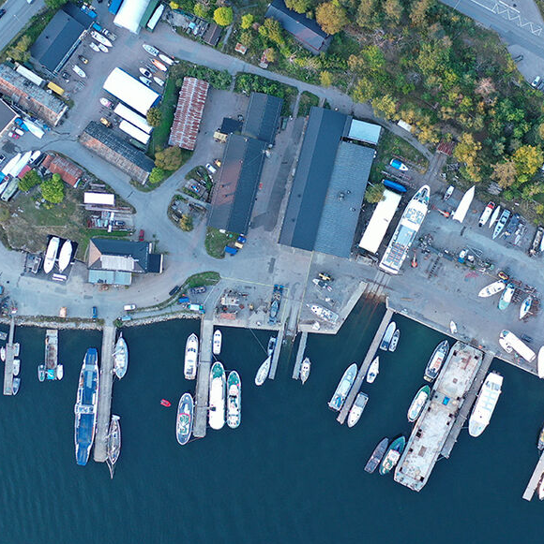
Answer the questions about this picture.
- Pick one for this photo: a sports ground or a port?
port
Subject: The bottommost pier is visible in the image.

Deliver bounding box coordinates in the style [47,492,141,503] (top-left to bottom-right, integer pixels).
[523,449,544,501]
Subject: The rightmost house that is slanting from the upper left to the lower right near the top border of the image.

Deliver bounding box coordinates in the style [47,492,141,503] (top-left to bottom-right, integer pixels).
[265,0,331,54]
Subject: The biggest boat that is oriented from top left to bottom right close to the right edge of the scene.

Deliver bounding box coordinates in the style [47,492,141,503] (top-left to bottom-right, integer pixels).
[502,331,541,366]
